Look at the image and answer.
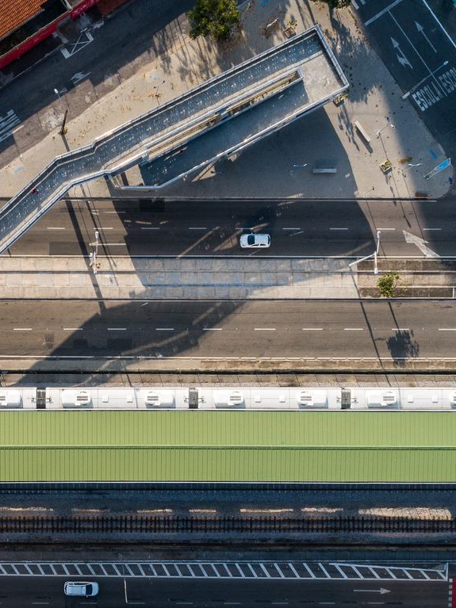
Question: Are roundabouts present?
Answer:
No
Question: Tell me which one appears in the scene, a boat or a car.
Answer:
car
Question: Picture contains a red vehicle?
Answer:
No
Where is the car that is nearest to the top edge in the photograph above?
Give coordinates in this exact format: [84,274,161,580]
[238,231,271,249]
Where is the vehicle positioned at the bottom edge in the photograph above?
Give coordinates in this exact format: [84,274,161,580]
[65,580,99,599]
